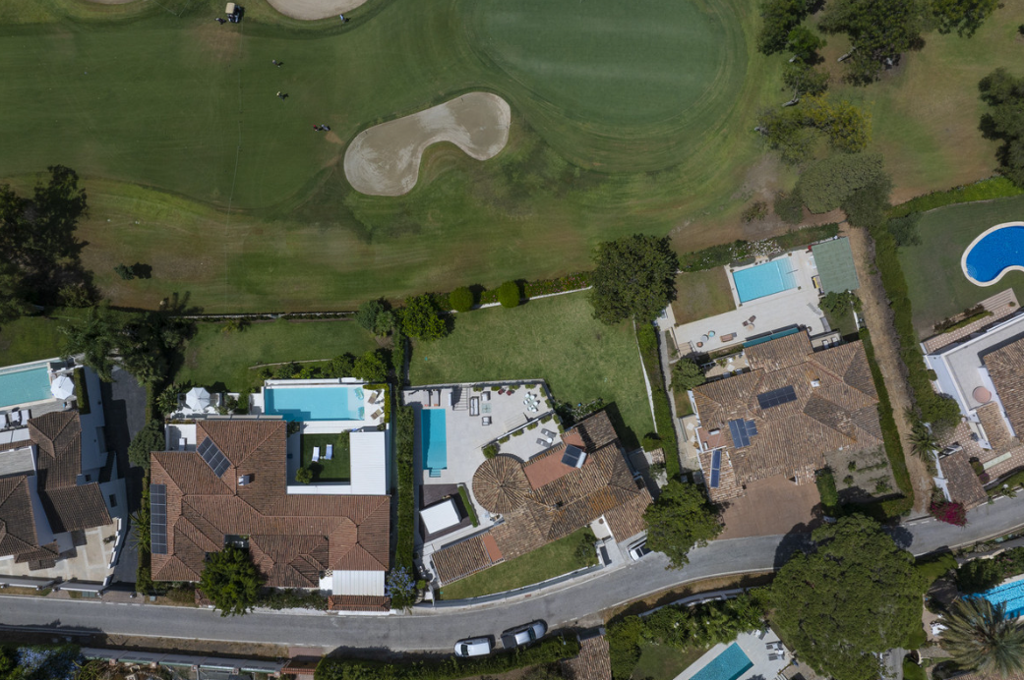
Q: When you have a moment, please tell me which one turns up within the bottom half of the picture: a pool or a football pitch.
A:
pool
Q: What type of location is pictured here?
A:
golf course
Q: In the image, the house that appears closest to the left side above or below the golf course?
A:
below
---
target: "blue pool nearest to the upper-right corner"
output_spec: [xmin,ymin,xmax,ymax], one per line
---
[961,220,1024,287]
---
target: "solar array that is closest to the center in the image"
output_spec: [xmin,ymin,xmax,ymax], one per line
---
[561,444,582,468]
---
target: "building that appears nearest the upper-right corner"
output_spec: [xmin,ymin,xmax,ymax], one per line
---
[804,237,860,295]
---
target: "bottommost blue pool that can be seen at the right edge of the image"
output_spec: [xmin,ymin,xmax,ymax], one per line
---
[959,579,1024,628]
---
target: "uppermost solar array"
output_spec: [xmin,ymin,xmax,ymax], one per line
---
[757,385,798,410]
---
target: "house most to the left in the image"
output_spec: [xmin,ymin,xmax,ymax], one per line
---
[0,412,126,571]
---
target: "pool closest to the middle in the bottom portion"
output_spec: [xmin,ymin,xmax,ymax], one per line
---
[421,409,447,478]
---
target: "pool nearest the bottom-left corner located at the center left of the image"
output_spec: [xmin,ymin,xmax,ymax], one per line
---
[0,362,58,411]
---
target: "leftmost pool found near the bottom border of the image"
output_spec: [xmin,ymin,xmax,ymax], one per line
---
[673,645,752,680]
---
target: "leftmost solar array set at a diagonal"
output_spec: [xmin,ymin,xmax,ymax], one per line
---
[196,437,230,477]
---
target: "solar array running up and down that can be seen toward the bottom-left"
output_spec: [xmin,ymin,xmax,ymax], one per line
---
[150,484,166,554]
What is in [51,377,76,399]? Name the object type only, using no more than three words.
umbrella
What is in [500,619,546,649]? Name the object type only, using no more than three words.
car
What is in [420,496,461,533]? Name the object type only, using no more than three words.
gazebo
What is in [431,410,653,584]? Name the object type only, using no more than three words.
house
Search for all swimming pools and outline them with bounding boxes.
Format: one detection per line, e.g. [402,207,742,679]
[421,409,447,478]
[264,388,364,421]
[673,645,752,680]
[732,257,797,302]
[959,579,1024,628]
[961,220,1024,287]
[0,362,58,411]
